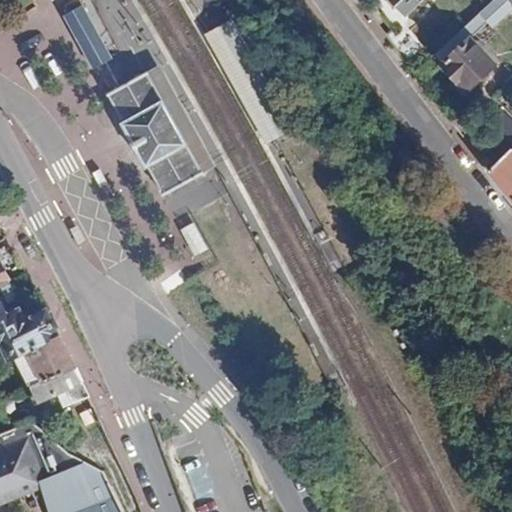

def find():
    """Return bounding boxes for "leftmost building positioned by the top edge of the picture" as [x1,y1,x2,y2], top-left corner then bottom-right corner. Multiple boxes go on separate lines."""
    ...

[62,6,124,90]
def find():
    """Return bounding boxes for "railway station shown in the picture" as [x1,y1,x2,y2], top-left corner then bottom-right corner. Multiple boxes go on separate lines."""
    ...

[106,0,357,406]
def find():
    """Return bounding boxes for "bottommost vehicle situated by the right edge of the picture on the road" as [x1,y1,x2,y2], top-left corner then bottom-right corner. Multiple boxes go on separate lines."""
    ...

[487,189,506,210]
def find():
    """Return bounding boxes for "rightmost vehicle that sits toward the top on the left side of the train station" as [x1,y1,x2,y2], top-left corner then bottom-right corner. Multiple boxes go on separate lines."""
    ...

[44,51,64,76]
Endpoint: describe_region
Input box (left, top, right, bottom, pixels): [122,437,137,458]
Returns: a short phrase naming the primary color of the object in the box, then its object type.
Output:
white car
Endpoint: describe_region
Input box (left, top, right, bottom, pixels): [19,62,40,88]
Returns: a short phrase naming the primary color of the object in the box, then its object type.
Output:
white vehicle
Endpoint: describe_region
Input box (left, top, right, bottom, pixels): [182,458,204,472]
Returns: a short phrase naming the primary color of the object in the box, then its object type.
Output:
white car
